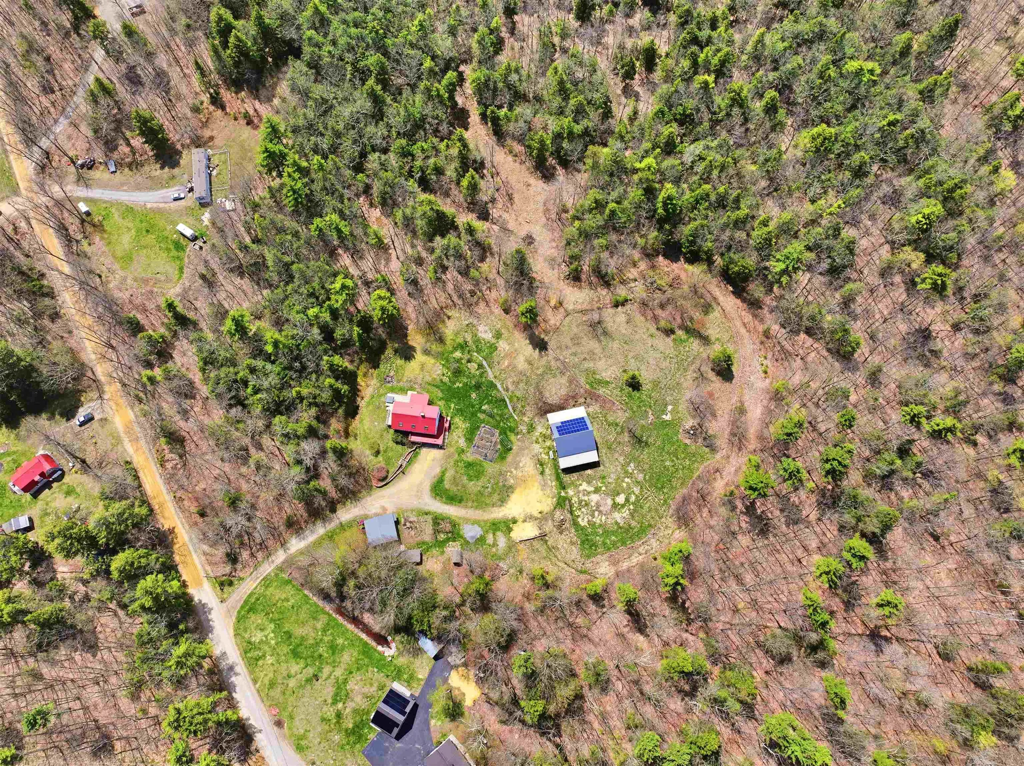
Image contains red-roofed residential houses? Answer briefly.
Yes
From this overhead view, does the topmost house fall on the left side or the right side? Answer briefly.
left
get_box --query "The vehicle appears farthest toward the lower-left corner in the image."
[74,412,94,425]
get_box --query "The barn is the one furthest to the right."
[548,406,599,469]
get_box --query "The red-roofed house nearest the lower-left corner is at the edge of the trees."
[10,449,61,499]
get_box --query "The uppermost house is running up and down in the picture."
[192,150,216,204]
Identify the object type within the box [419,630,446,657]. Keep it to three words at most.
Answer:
shed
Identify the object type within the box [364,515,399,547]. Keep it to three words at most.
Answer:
shed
